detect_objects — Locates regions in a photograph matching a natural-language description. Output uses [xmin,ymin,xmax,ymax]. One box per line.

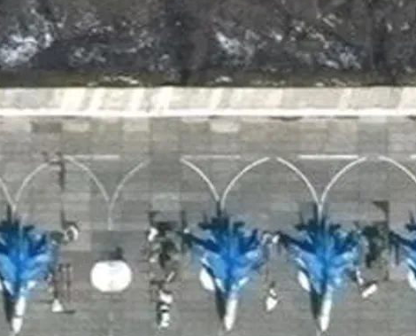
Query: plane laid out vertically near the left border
[0,215,53,332]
